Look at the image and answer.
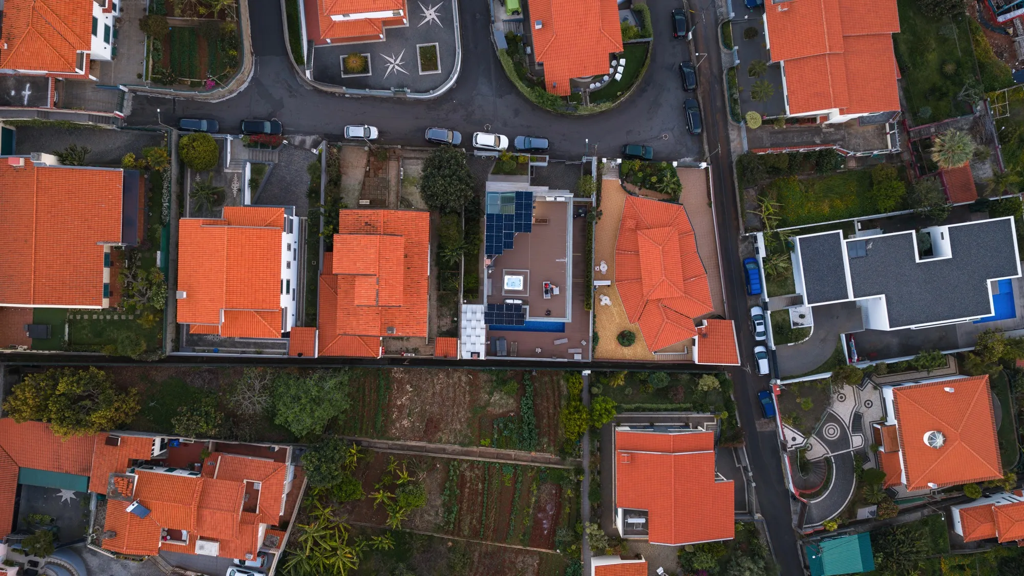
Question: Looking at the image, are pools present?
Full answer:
Yes, there's a pool here.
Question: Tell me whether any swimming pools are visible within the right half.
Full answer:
Yes, I can see a swimming pool within the right half.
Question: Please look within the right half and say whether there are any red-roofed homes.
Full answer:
Yes, a red-roofed home can be seen within the right half.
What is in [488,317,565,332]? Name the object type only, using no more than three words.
swimming pool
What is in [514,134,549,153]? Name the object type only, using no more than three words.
car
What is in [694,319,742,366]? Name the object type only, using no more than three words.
building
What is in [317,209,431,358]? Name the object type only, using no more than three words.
house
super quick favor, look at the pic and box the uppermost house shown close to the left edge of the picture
[0,0,113,85]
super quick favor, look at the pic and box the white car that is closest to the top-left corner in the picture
[345,124,379,141]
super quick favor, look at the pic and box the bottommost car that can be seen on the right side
[755,387,776,421]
